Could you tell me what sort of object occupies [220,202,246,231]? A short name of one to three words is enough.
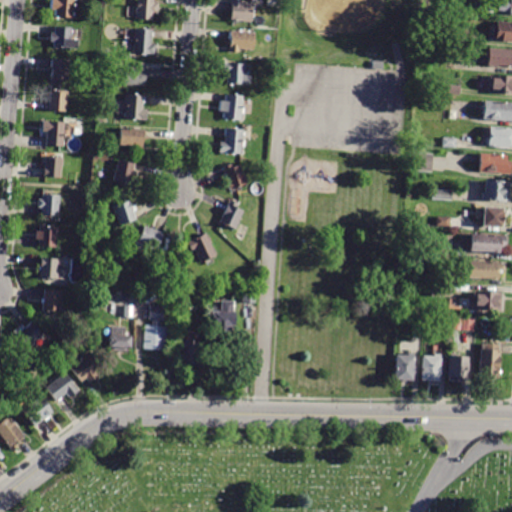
house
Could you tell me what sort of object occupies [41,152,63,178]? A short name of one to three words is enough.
house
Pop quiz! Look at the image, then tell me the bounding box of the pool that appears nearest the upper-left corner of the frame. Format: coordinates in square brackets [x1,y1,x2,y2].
[67,138,81,154]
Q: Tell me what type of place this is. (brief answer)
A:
residential area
